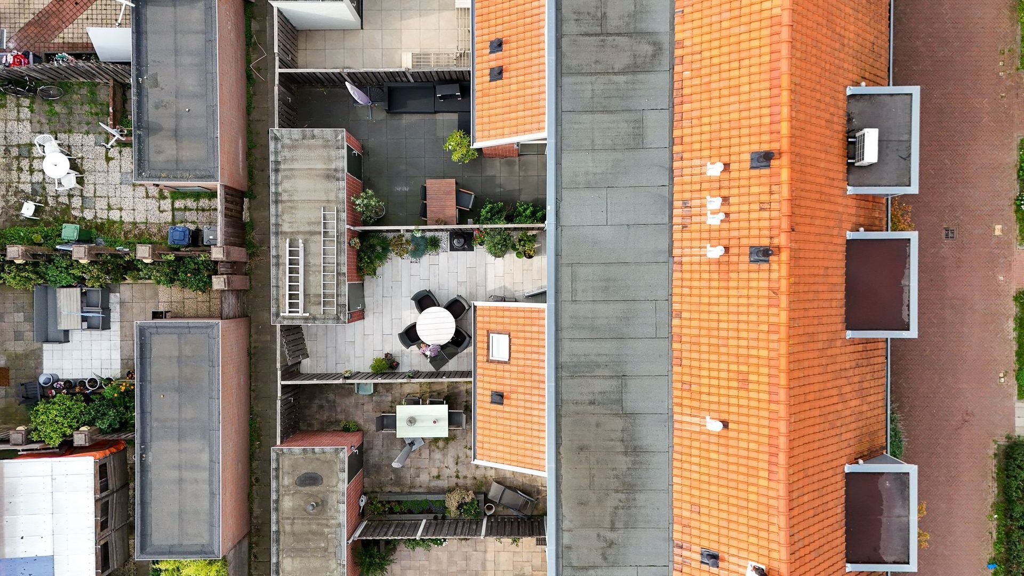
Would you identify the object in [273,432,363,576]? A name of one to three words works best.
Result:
shed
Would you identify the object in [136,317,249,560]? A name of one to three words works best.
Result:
shed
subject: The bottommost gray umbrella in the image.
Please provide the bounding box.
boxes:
[392,437,425,467]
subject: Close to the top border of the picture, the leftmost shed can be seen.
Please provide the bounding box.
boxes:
[132,0,247,191]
